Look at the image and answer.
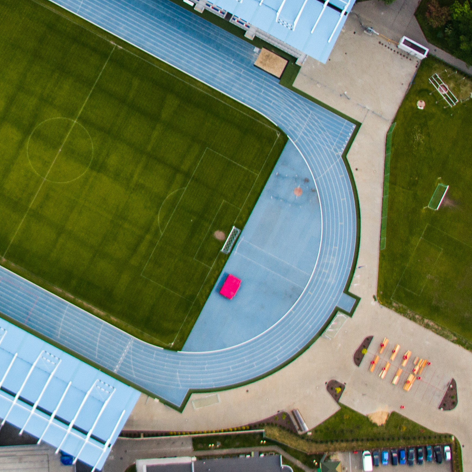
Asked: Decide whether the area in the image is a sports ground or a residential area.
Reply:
sports ground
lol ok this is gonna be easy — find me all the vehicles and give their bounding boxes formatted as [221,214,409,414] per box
[363,450,373,472]
[381,451,388,466]
[425,446,434,462]
[444,446,451,462]
[372,452,380,467]
[390,450,398,466]
[434,447,442,464]
[408,449,416,466]
[417,448,425,465]
[398,450,406,465]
